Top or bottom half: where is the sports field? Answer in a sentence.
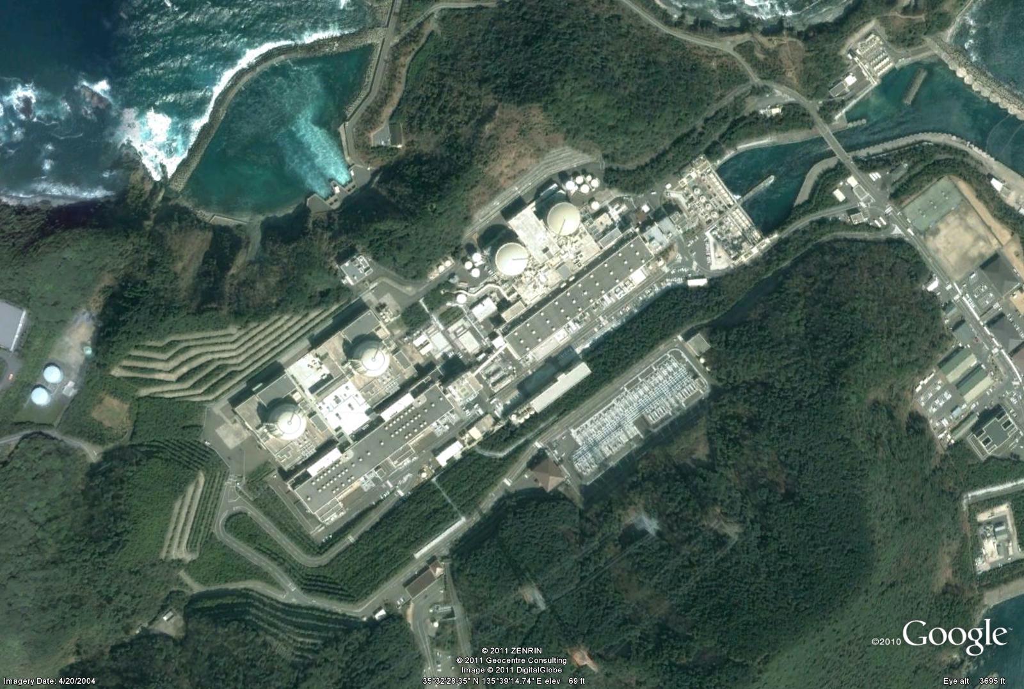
The sports field is in the top half of the image.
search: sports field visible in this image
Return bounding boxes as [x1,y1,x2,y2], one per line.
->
[925,200,1000,280]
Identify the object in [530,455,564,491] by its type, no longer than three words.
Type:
house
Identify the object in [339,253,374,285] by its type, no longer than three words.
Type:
building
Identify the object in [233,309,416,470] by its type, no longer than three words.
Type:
building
